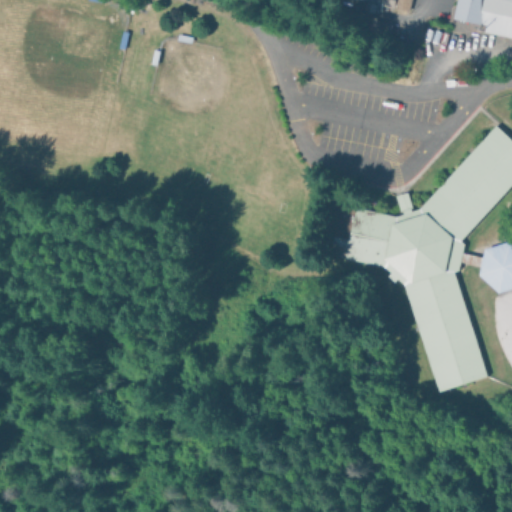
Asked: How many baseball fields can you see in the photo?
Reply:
2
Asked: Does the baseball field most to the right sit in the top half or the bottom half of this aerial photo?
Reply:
top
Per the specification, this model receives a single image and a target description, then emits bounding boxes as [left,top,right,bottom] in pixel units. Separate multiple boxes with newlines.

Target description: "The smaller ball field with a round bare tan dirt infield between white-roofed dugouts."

[156,40,230,112]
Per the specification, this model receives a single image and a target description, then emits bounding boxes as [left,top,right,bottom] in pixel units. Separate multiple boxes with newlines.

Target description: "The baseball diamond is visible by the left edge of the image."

[24,6,112,98]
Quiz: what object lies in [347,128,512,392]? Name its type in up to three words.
building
